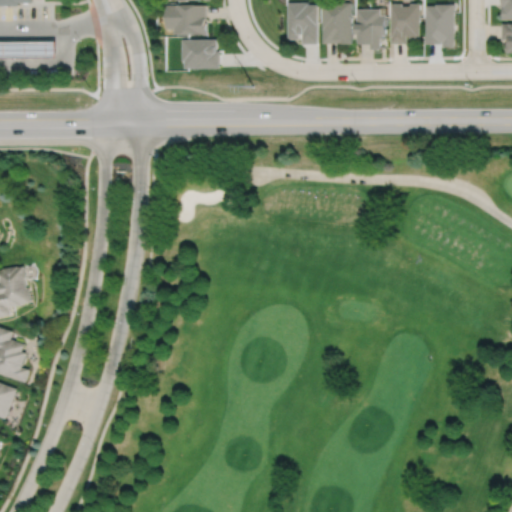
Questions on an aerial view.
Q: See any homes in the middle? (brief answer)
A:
No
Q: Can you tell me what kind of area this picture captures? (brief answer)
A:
golf course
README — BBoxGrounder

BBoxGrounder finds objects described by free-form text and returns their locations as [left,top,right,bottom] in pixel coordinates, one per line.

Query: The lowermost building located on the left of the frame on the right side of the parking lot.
[182,39,222,70]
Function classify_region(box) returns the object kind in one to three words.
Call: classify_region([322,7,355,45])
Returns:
house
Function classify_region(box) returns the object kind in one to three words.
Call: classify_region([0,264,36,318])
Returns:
house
